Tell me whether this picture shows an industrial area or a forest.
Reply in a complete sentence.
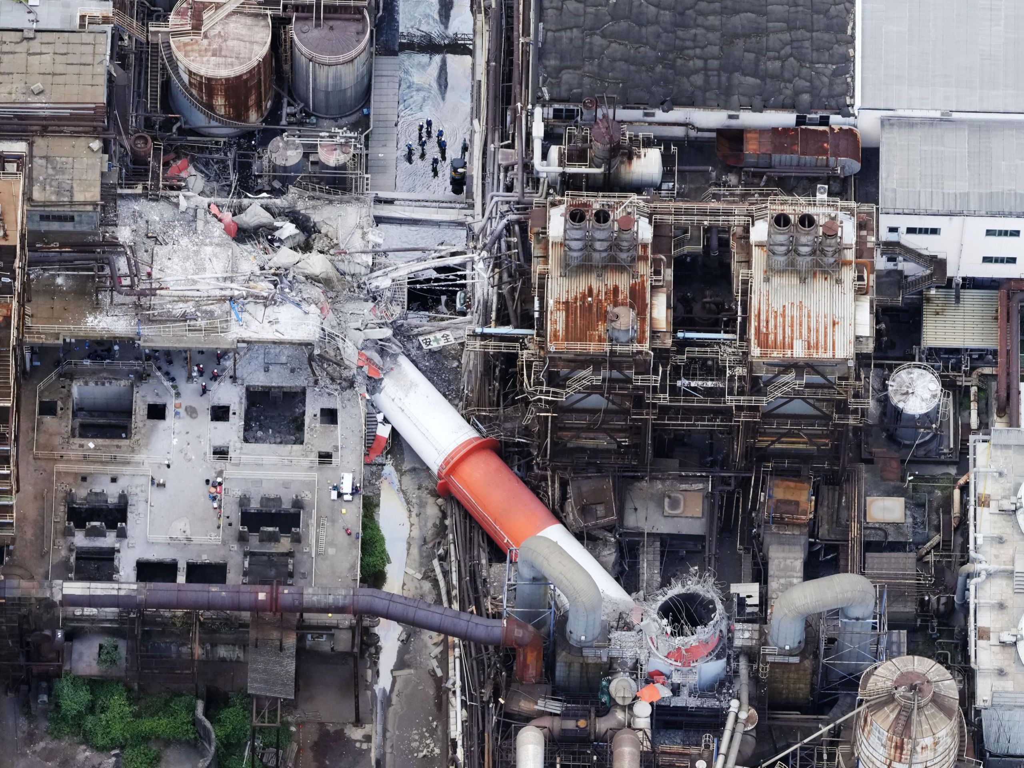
The picture captures an industrial area.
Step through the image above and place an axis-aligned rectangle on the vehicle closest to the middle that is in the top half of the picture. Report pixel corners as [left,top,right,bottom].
[454,287,466,319]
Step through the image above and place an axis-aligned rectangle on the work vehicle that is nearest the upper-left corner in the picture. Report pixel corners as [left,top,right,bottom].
[448,138,470,187]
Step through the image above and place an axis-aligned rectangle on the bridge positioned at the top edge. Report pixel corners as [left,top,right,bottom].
[399,33,473,56]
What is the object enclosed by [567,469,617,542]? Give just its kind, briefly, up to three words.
building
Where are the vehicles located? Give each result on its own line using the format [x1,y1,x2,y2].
[454,287,466,319]
[448,138,470,187]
